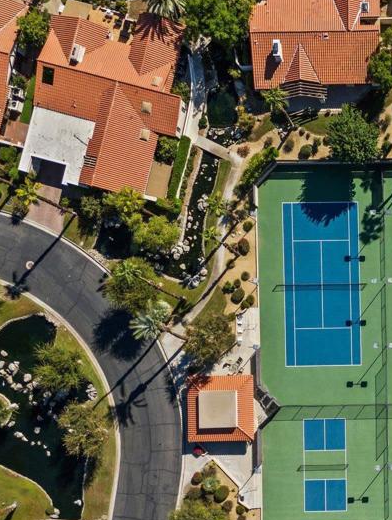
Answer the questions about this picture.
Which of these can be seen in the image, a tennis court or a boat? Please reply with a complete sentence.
Looking from above, you can make out a tennis court.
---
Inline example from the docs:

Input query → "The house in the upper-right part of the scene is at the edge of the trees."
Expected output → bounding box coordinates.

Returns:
[250,0,380,92]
